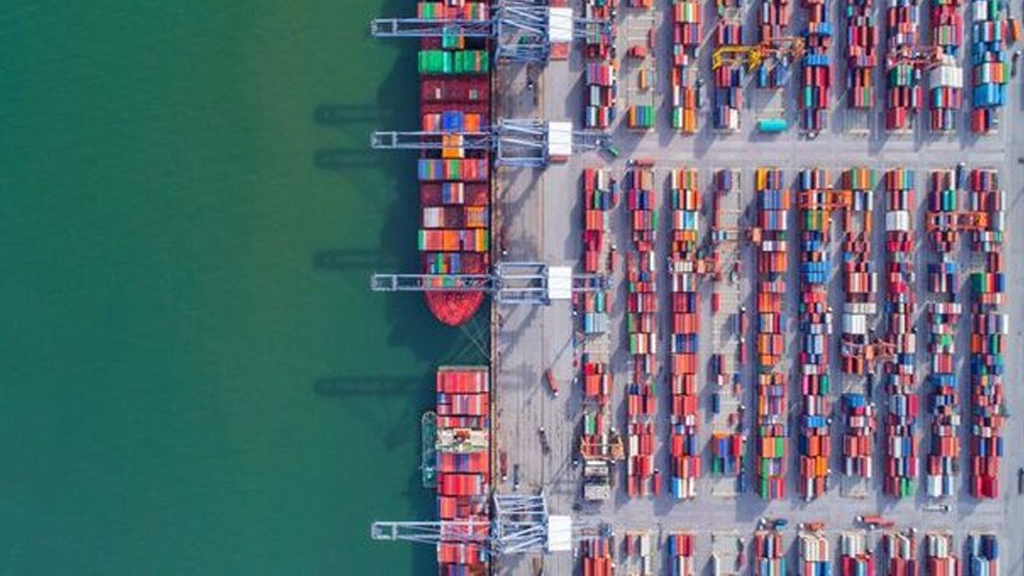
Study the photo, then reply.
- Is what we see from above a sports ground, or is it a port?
port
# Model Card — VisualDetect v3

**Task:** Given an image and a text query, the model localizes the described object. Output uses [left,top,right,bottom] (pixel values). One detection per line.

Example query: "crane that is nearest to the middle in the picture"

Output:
[372,262,611,304]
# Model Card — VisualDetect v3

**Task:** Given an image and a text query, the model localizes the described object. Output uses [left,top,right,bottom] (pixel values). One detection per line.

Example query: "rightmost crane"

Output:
[925,213,990,235]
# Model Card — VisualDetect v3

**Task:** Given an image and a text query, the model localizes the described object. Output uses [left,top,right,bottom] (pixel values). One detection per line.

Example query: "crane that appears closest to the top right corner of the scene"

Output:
[882,46,945,77]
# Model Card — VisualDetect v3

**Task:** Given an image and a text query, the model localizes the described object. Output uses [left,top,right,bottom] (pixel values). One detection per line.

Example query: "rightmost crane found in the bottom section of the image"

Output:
[839,336,899,359]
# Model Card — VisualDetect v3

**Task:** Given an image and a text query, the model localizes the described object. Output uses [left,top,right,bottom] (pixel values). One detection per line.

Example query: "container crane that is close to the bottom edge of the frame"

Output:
[372,485,611,551]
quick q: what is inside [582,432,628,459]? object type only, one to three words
crane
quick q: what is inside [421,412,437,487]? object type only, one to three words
vessel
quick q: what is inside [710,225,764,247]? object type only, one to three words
crane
